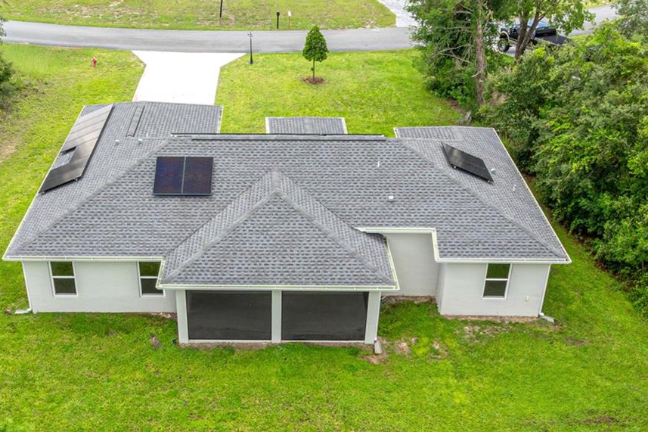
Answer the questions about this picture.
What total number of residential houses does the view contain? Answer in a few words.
1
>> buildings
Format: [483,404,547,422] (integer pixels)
[2,101,572,346]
